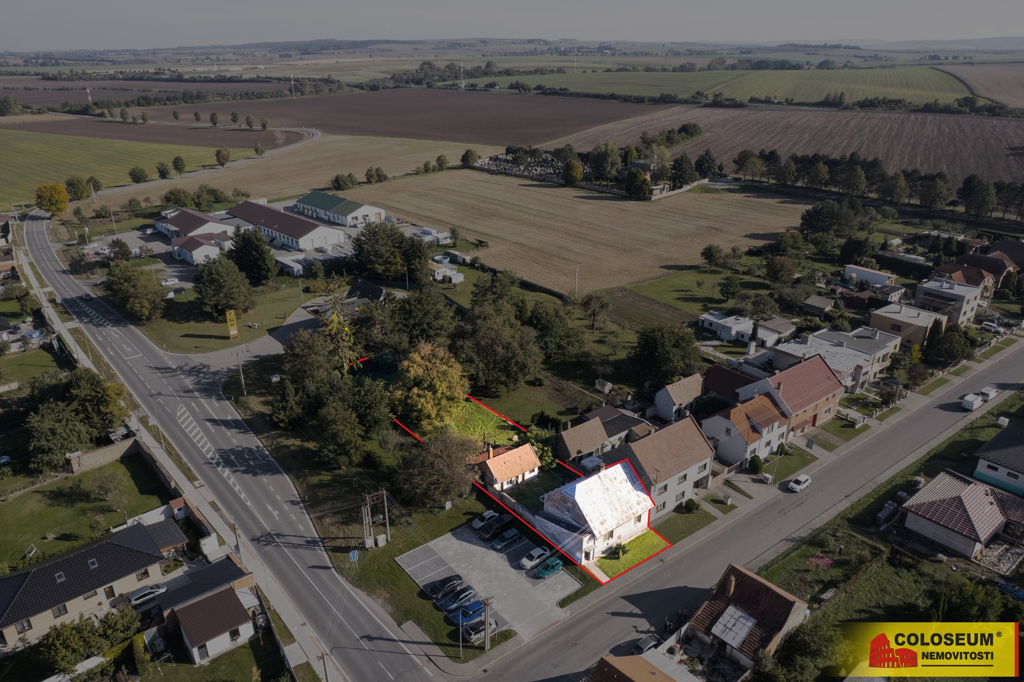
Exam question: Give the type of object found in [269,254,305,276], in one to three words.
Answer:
shed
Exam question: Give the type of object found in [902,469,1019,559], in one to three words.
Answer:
house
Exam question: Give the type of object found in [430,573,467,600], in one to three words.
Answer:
car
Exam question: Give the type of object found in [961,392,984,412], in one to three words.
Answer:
vehicle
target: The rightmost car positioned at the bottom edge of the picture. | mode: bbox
[633,630,665,654]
